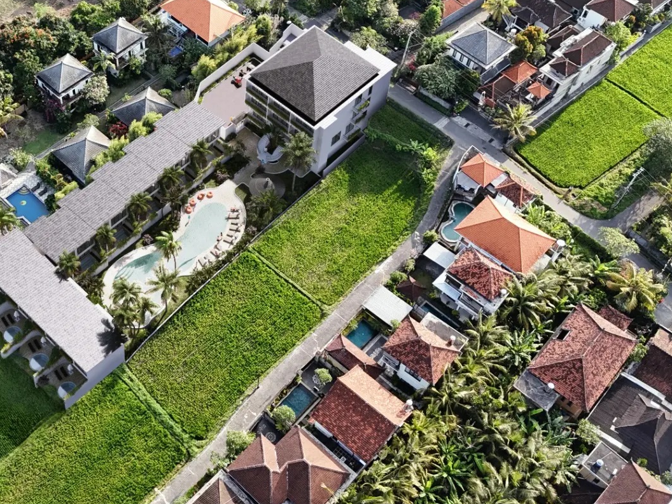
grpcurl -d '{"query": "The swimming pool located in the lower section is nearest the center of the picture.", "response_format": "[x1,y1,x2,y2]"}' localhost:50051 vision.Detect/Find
[344,319,380,351]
